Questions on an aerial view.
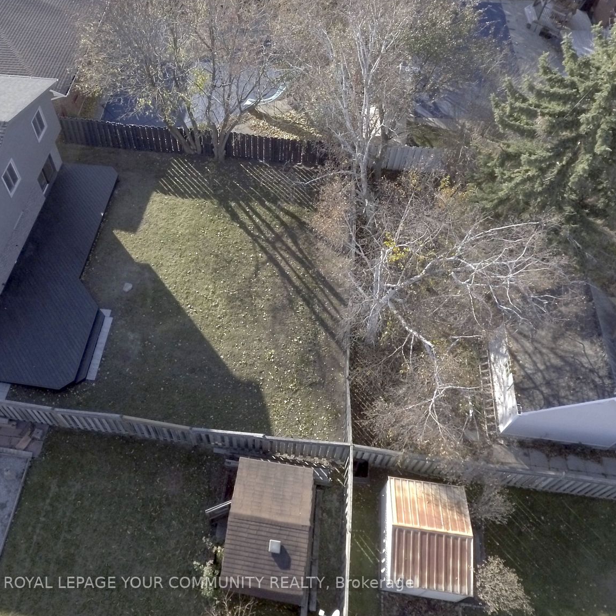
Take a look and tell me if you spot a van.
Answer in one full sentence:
No, there isn't any van down there.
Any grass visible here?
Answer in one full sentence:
Yes, the picture does contain grass.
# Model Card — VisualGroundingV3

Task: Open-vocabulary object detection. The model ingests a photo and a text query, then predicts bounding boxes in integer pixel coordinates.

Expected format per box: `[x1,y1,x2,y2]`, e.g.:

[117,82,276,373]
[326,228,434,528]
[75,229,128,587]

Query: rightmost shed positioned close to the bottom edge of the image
[381,474,475,602]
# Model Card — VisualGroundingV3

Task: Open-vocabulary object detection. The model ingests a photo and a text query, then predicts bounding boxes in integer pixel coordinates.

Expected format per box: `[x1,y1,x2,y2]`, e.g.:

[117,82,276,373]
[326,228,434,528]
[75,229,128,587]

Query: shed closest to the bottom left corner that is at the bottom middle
[221,457,327,614]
